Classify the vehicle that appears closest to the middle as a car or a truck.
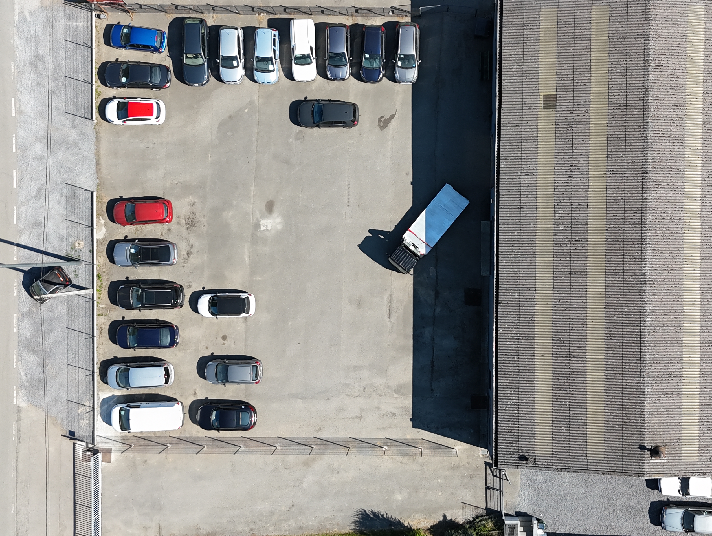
truck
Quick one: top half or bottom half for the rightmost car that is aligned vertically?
top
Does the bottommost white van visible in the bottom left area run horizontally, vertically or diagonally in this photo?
horizontally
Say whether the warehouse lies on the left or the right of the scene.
right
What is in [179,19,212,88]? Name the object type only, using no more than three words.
car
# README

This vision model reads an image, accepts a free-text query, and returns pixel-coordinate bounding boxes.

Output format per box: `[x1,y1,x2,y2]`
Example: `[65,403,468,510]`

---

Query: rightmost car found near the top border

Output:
[391,23,422,85]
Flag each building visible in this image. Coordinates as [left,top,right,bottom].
[490,0,712,481]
